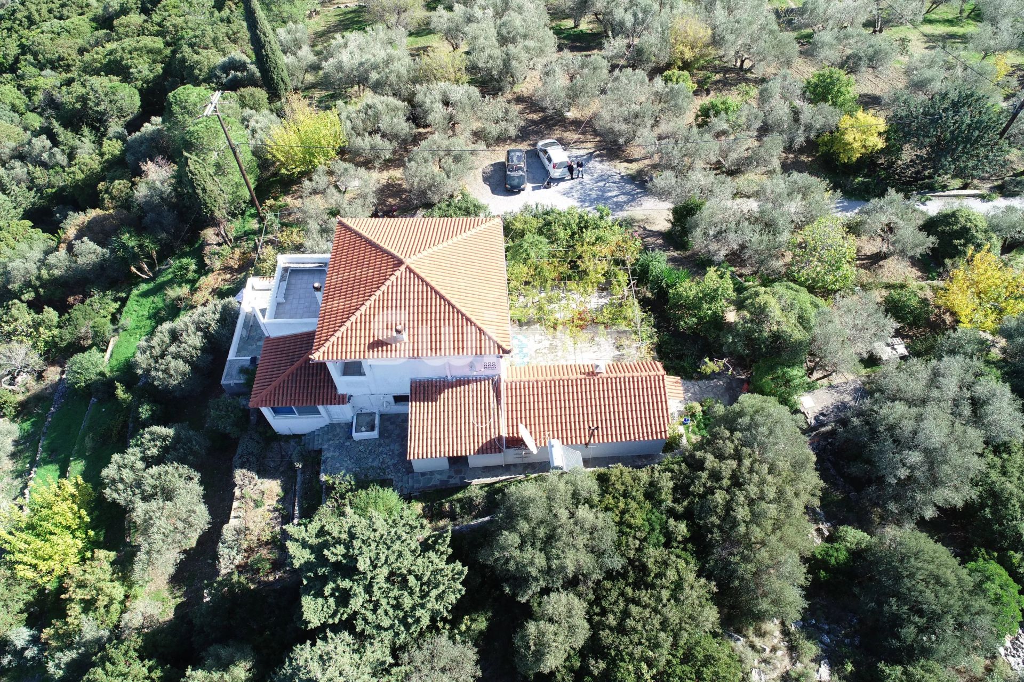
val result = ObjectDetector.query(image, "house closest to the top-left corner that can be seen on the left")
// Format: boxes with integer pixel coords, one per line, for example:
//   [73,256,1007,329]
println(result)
[221,215,513,428]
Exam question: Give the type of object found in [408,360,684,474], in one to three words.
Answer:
shed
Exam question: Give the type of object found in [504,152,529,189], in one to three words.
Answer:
car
